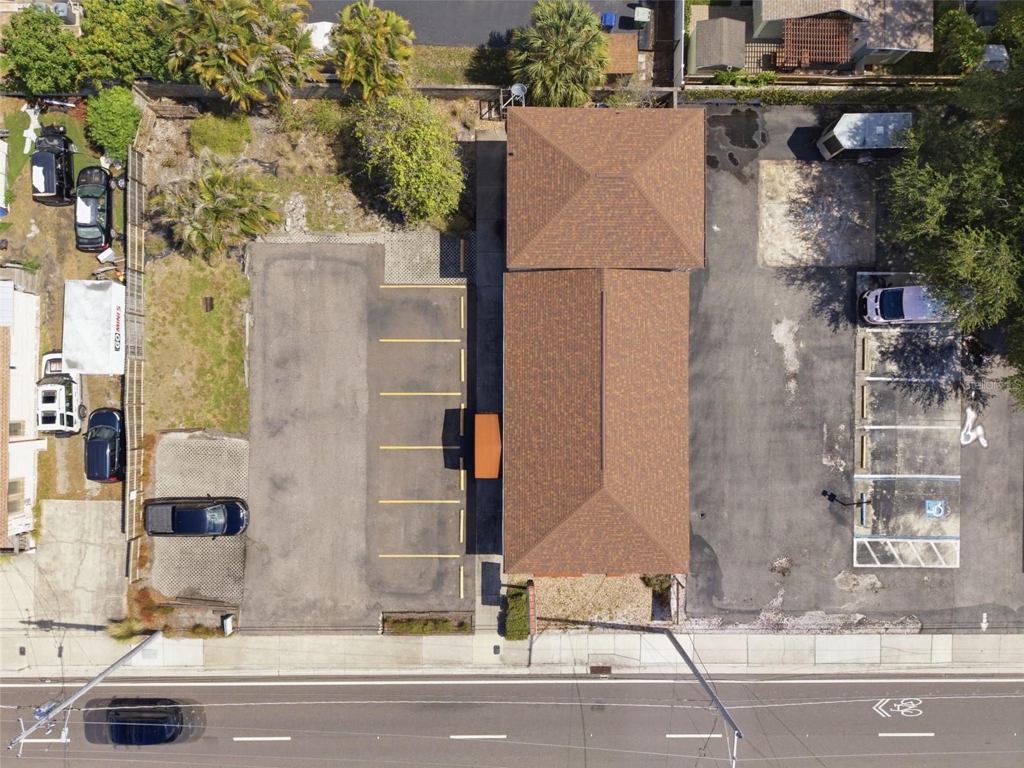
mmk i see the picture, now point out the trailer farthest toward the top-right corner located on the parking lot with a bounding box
[797,112,913,165]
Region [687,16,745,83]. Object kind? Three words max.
shed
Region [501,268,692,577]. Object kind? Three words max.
building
